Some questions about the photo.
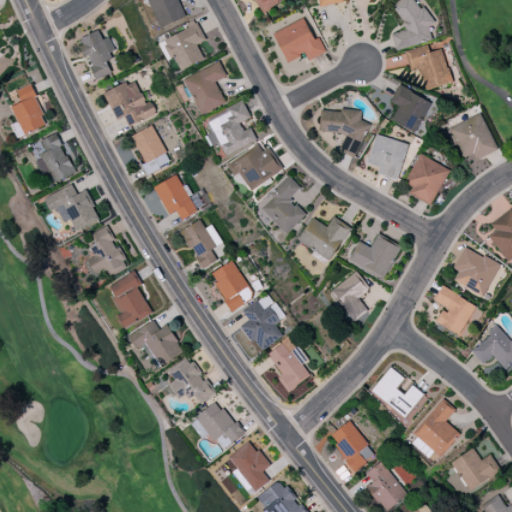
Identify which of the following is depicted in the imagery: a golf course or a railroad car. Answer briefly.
golf course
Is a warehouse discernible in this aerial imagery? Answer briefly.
No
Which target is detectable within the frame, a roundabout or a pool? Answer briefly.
pool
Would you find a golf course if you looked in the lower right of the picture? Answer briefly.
No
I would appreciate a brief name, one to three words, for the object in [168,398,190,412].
swimming pool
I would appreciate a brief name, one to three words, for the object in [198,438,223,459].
swimming pool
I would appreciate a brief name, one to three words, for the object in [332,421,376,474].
house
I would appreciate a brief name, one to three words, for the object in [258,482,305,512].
house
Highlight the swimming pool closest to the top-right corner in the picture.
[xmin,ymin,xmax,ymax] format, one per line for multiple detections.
[354,98,376,121]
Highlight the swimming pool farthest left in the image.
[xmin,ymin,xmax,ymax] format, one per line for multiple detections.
[46,214,63,230]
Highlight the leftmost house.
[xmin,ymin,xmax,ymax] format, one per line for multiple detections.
[10,84,48,138]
